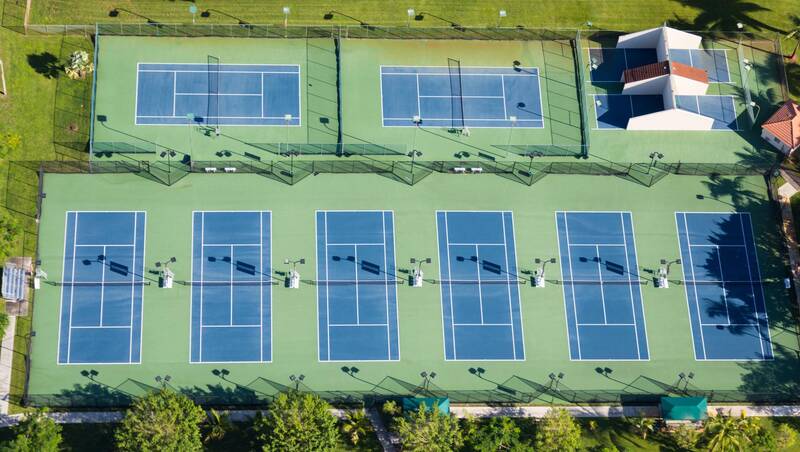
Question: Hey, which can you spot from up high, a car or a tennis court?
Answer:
tennis court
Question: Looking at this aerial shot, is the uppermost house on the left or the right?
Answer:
right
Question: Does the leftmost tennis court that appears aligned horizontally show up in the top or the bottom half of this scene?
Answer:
top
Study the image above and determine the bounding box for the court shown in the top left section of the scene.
[136,64,299,126]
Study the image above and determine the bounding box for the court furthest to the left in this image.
[59,212,145,361]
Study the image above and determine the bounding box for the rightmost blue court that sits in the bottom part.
[674,211,775,361]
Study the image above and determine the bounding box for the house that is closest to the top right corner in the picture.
[762,94,800,157]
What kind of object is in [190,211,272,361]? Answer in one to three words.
tennis court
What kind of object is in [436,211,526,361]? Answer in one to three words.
tennis court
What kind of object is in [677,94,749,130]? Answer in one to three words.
sports court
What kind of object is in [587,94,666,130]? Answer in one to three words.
sports court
